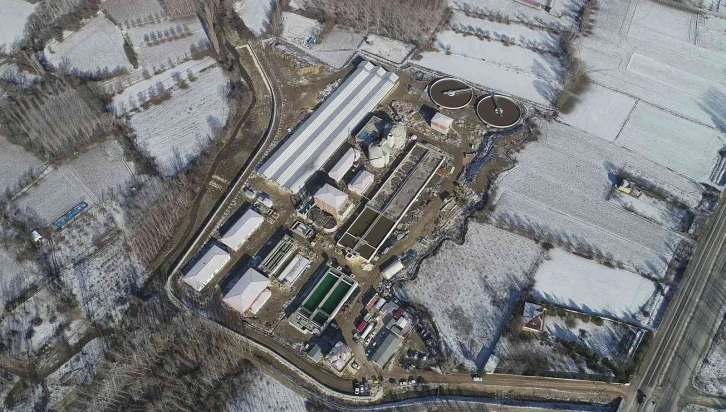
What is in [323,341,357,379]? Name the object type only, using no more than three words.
house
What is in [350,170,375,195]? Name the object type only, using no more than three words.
building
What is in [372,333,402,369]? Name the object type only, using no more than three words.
shed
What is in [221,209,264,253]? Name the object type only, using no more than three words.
building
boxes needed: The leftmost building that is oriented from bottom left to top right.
[183,245,232,294]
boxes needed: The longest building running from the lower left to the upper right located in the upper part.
[258,63,397,198]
